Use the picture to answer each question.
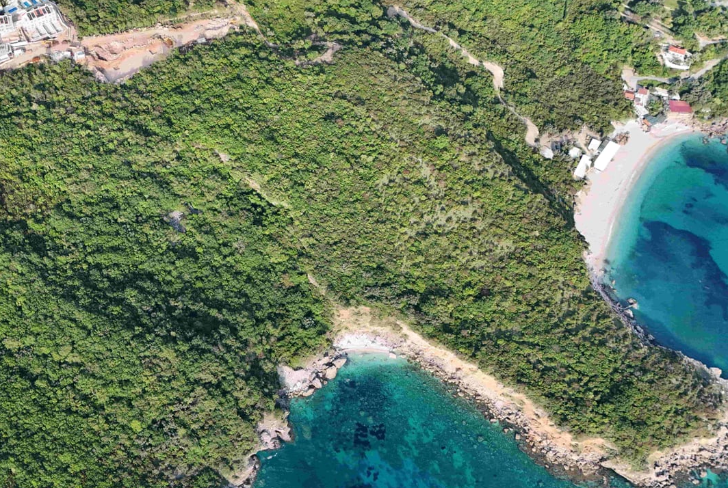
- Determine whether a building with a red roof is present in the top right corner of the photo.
Yes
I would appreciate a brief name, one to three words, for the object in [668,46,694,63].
house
